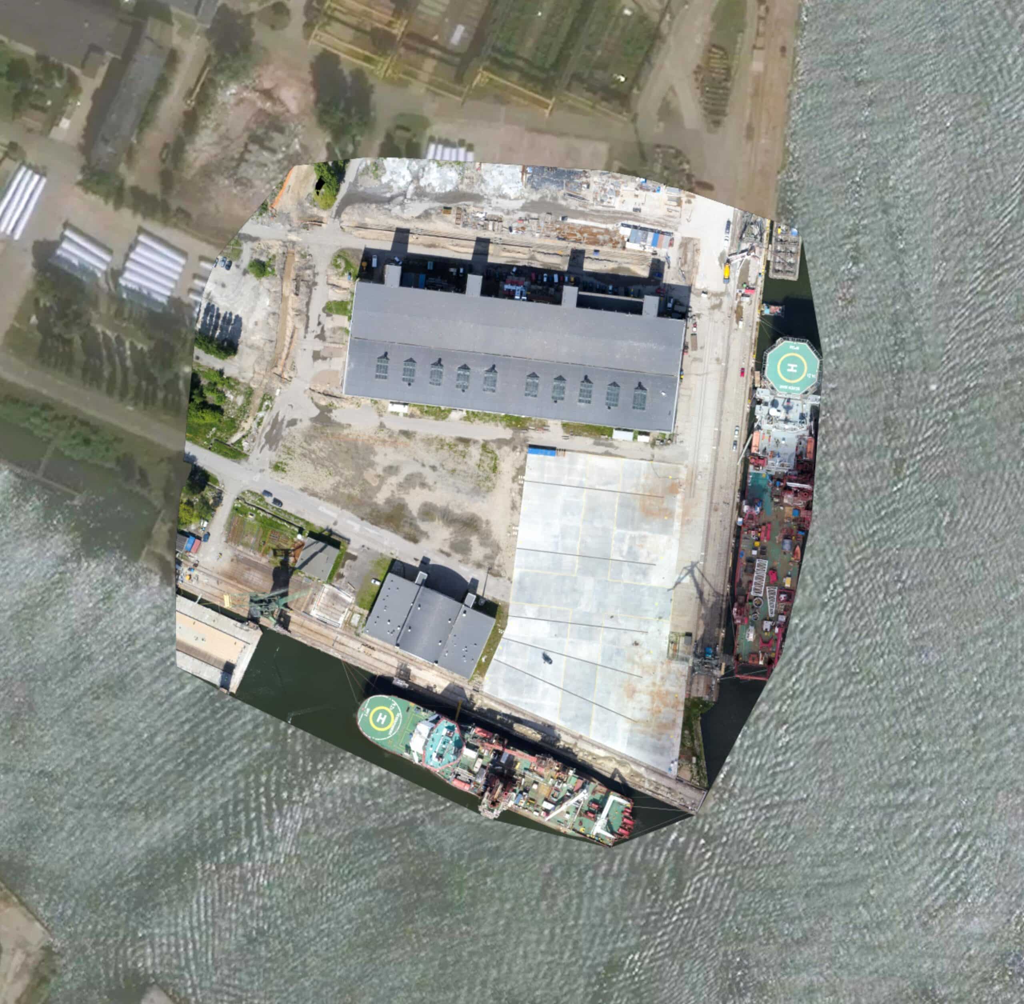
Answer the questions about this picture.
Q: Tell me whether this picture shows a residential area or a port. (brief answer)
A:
port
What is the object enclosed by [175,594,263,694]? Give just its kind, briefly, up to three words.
pier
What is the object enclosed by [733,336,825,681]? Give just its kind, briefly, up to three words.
ship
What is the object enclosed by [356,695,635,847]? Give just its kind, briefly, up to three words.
ship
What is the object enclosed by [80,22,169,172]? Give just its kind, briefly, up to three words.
shed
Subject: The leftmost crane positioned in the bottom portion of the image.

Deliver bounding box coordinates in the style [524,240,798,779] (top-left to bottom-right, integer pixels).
[230,585,334,624]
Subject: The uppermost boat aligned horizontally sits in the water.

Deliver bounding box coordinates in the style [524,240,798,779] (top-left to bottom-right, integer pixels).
[761,304,785,317]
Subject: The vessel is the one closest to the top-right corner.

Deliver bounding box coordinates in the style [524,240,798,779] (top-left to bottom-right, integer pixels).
[768,220,803,282]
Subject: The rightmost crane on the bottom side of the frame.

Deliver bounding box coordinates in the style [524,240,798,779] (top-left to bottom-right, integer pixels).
[659,630,720,678]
